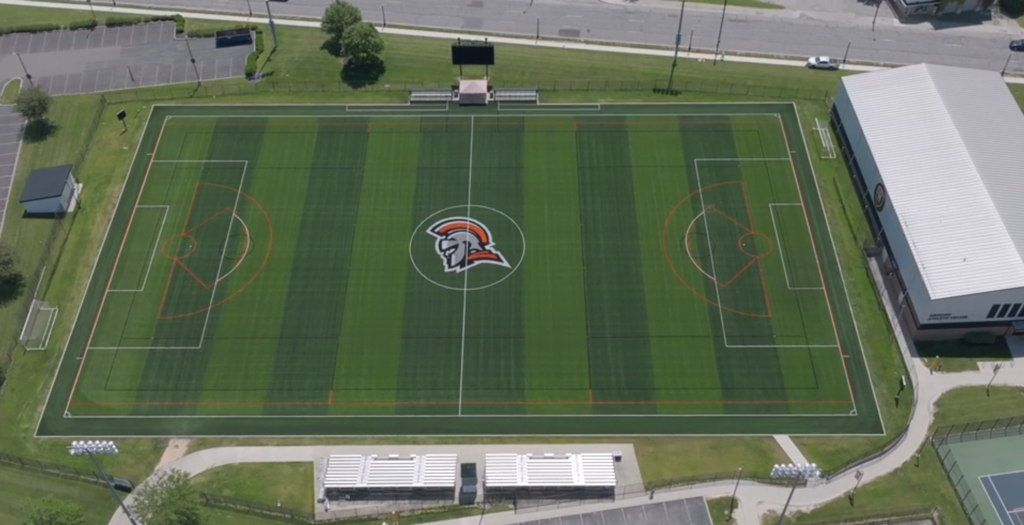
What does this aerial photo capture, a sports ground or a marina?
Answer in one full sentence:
What you see here is a sports ground.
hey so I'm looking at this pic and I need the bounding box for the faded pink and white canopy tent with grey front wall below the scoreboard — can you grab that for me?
[459,77,488,104]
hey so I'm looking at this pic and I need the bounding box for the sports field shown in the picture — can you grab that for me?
[37,102,884,435]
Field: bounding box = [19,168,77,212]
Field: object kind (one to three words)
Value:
shed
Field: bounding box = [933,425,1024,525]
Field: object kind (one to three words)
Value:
tennis court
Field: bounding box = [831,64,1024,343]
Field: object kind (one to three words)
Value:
building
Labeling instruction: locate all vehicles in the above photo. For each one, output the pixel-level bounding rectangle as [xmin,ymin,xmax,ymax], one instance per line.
[807,54,840,69]
[1013,38,1024,49]
[459,462,478,503]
